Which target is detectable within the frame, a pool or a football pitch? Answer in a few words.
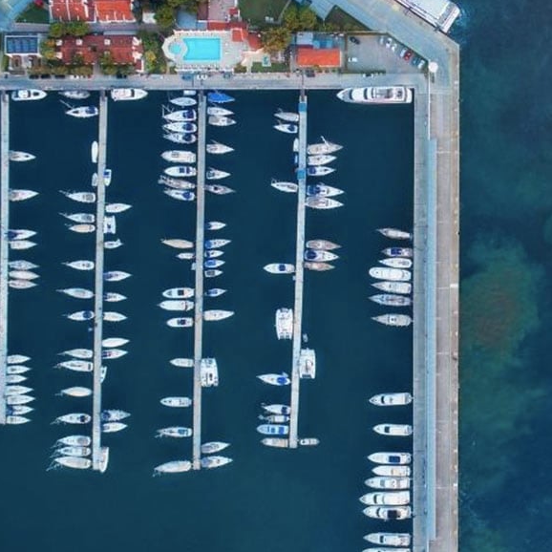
pool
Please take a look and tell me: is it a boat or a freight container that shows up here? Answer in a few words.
boat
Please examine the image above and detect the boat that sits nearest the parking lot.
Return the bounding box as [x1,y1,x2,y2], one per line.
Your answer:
[336,86,413,102]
